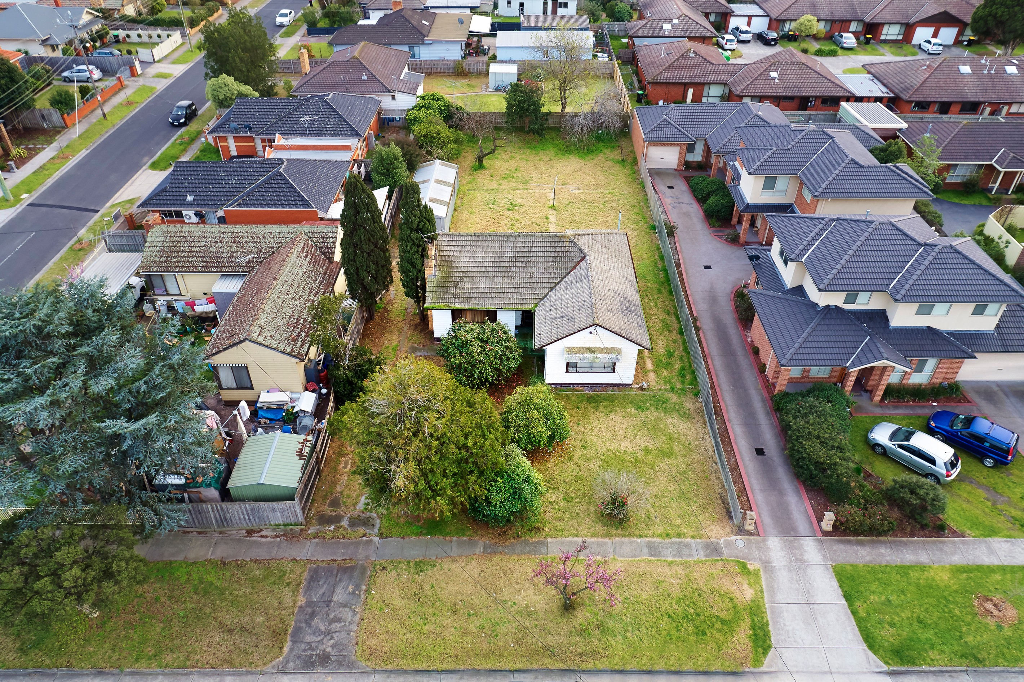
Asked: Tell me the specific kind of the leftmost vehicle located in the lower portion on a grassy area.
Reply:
car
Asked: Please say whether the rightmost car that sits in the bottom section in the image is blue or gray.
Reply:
blue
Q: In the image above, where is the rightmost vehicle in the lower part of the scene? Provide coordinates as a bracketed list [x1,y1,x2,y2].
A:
[923,411,1024,470]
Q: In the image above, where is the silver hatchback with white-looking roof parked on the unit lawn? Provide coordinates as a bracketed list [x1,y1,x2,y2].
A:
[867,425,964,486]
